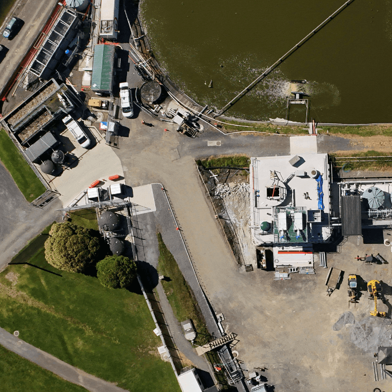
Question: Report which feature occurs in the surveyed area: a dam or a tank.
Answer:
tank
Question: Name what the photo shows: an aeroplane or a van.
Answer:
van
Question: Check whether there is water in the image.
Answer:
Yes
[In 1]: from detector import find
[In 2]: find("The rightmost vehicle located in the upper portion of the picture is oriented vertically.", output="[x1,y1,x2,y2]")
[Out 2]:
[117,83,134,118]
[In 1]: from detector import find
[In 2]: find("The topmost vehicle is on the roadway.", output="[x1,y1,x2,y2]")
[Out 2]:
[2,14,20,41]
